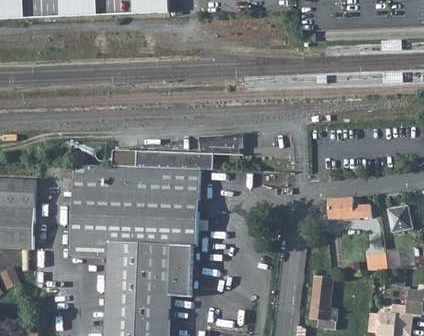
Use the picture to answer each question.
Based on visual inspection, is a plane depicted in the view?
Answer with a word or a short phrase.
No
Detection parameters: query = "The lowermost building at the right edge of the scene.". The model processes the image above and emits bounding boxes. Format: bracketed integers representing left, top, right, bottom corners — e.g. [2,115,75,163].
[368,304,412,336]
